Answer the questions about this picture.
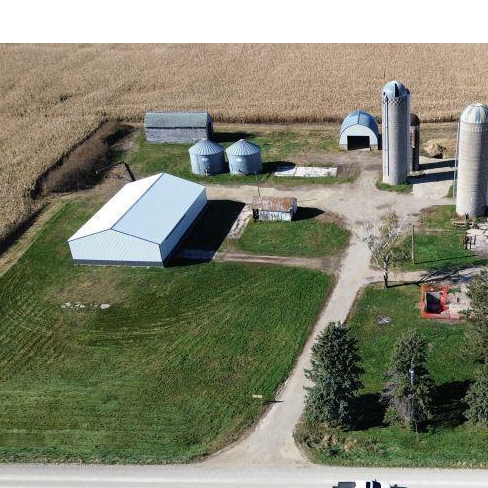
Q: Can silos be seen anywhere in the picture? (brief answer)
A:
Yes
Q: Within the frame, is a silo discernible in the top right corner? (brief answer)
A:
Yes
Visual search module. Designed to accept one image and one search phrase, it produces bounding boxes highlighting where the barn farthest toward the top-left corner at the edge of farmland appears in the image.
[142,110,216,142]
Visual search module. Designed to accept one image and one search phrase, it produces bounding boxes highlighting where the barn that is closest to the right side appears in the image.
[340,109,379,150]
